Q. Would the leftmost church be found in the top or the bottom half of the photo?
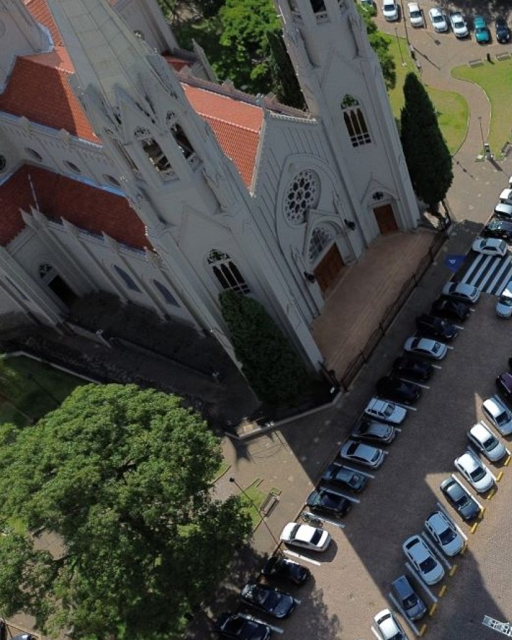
top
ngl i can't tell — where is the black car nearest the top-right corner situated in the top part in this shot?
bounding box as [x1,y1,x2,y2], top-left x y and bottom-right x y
[495,20,510,44]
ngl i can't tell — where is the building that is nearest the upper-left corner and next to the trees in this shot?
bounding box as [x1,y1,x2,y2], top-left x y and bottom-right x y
[0,0,419,371]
